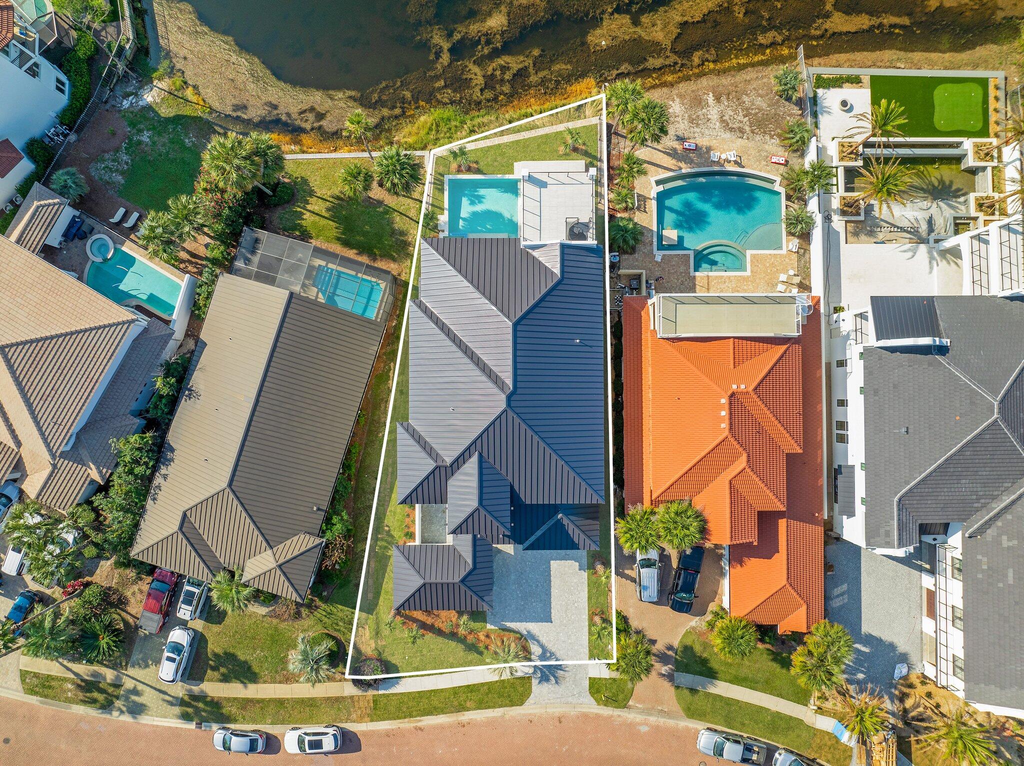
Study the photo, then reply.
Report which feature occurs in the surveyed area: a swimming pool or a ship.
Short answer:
swimming pool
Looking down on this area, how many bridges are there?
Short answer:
none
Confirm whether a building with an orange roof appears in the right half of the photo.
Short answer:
Yes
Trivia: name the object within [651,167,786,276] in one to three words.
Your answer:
swimming pool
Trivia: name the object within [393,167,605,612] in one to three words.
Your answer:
house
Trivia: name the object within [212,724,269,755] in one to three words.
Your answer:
car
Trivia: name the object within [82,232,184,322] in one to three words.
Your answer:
swimming pool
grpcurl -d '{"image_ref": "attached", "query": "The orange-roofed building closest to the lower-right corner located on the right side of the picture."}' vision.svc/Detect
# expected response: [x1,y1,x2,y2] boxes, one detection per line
[623,294,825,634]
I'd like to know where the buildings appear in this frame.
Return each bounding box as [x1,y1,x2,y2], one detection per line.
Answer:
[623,294,825,634]
[0,181,186,513]
[0,0,68,202]
[393,167,605,612]
[129,272,388,604]
[829,211,1024,713]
